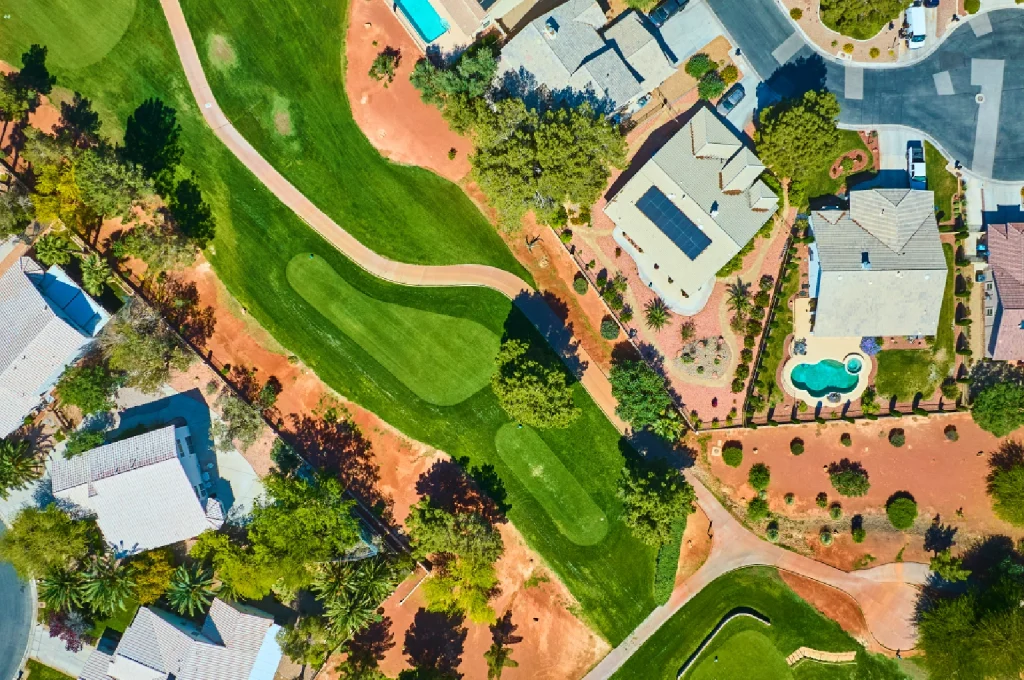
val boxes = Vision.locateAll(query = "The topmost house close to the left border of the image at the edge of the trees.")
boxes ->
[0,257,122,455]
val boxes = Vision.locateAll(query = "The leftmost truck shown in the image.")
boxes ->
[649,0,689,24]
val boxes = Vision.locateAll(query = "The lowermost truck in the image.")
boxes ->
[904,148,925,190]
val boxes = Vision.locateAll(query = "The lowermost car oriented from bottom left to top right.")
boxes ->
[714,82,748,113]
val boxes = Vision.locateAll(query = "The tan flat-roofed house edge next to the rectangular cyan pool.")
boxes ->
[444,0,501,36]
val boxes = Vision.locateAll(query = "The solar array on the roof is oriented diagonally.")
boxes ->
[636,186,711,260]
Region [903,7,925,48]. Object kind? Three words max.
vehicle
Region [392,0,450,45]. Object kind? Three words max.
swimming pool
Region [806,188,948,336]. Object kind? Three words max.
house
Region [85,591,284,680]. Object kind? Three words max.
house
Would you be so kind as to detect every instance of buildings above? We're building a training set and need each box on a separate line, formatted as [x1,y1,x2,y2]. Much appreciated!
[603,106,780,290]
[501,0,677,125]
[806,188,948,336]
[51,424,228,556]
[0,257,122,455]
[977,221,1024,360]
[85,591,284,680]
[444,0,501,36]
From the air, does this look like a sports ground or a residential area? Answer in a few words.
residential area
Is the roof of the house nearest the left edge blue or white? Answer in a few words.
white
